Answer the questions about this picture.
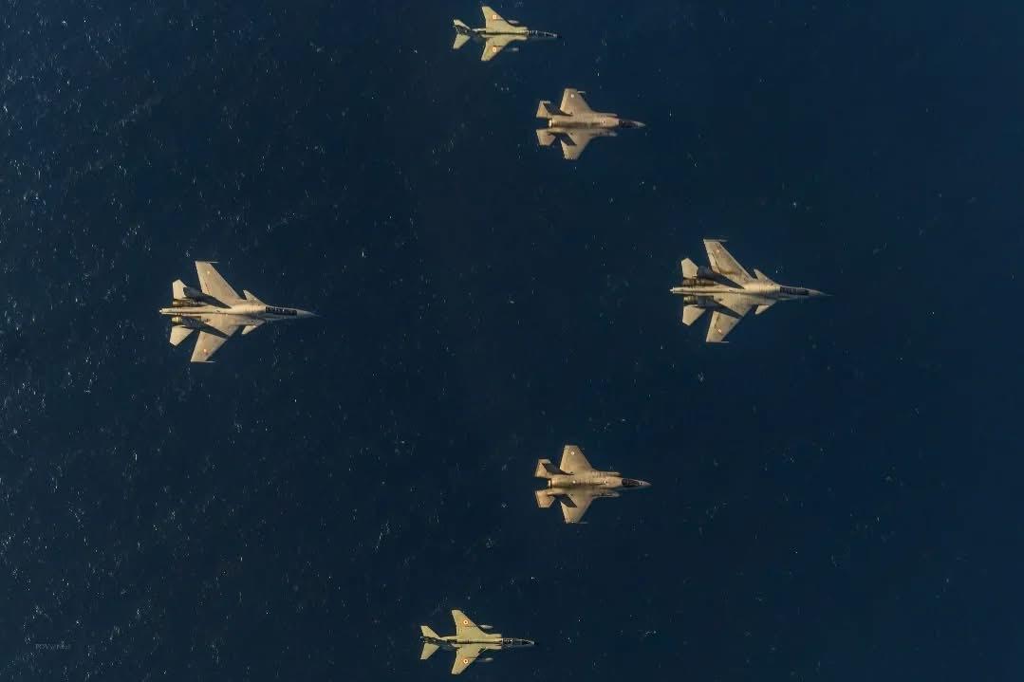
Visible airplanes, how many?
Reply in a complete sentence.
My tally gives 6 airplanes in this view.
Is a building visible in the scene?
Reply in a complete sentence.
No, there's no building here.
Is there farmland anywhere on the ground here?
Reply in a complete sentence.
No, there is no farmland in the image.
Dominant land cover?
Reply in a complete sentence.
For the most part, this view shows water.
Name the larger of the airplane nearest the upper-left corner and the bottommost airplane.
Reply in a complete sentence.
The airplane nearest the upper-left corner is bigger than the bottommost airplane.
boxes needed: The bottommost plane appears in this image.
[420,610,534,674]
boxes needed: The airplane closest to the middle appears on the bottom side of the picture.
[536,445,651,523]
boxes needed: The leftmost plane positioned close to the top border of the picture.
[453,6,559,59]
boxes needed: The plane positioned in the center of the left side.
[158,262,314,363]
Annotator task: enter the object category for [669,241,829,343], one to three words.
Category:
airplane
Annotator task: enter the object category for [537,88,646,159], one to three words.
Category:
airplane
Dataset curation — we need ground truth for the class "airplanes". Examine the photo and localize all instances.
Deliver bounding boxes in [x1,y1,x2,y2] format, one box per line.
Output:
[669,241,829,343]
[453,6,559,59]
[536,445,651,523]
[420,610,534,674]
[537,88,646,159]
[158,262,314,363]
